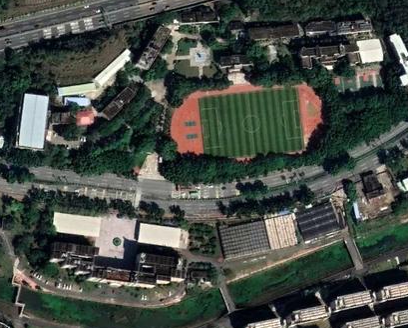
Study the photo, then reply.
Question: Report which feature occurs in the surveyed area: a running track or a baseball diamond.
running track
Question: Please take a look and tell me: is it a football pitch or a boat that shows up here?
football pitch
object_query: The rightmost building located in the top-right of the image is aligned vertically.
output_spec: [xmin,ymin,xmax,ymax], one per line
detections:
[389,34,408,88]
